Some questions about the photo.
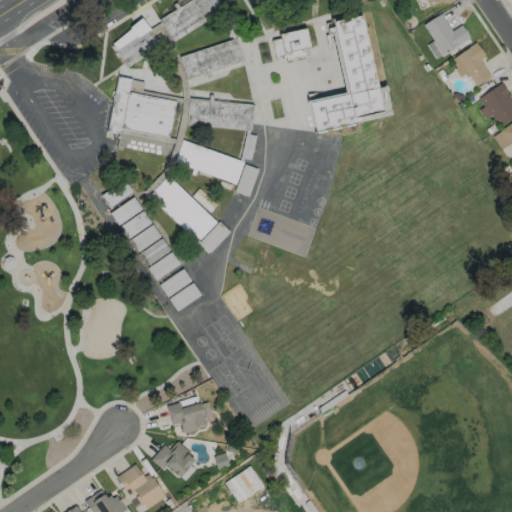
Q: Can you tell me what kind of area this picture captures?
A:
sports ground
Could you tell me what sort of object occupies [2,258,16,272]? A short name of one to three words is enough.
gazebo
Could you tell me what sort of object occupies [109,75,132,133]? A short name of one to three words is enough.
building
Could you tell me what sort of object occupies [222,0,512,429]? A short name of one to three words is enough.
sports field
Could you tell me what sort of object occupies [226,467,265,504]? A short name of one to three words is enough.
barn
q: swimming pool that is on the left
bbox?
[192,442,210,464]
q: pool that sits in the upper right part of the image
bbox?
[454,80,473,94]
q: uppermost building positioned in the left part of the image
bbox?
[160,0,217,40]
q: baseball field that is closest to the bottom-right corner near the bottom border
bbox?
[286,320,512,512]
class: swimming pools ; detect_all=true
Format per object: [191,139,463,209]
[454,80,473,94]
[192,442,210,464]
